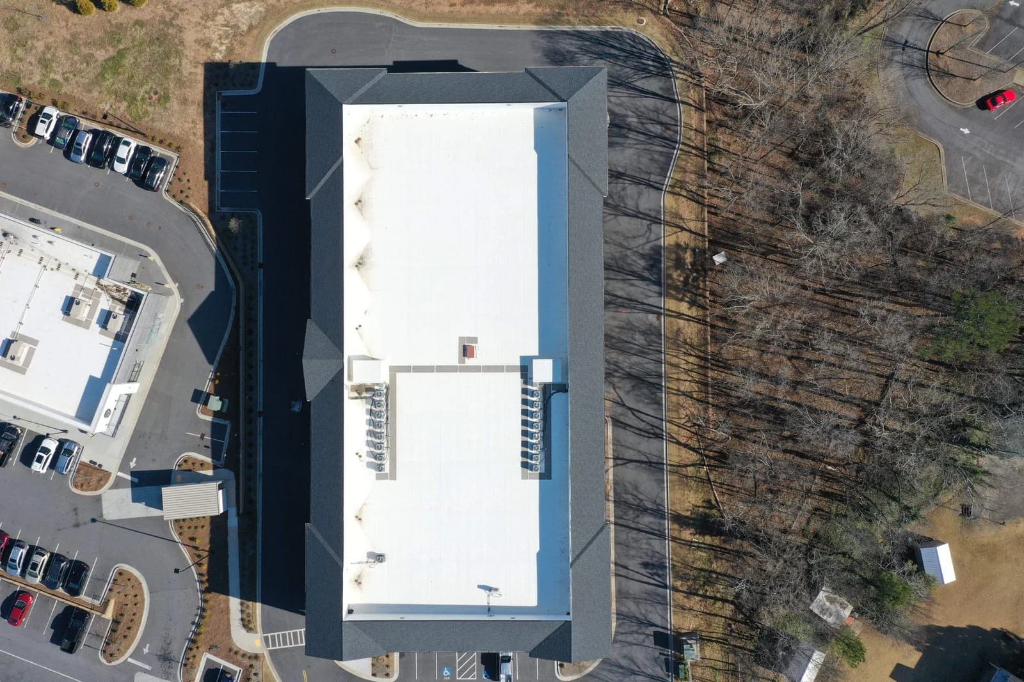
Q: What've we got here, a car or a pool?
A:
car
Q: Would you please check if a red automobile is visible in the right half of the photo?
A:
Yes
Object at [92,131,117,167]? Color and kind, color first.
black car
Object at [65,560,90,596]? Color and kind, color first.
black car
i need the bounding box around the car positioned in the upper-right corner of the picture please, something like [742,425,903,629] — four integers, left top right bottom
[981,88,1015,112]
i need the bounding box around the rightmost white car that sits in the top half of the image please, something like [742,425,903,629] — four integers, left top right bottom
[113,137,137,173]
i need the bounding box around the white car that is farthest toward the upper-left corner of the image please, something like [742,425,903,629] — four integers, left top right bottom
[35,106,60,139]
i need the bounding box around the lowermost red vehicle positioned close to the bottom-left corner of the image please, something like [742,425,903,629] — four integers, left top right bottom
[9,591,34,627]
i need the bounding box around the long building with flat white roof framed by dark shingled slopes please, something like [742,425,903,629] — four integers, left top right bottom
[301,67,609,661]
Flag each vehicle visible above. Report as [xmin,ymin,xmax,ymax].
[498,653,514,682]
[32,439,58,473]
[45,553,69,589]
[27,550,51,583]
[0,533,14,568]
[113,137,137,173]
[57,439,81,474]
[65,560,90,596]
[981,88,1015,112]
[6,541,30,574]
[55,116,80,151]
[0,92,19,128]
[35,106,60,139]
[143,156,169,192]
[128,146,152,181]
[70,128,94,164]
[9,591,34,627]
[60,610,91,654]
[0,425,23,469]
[92,131,117,167]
